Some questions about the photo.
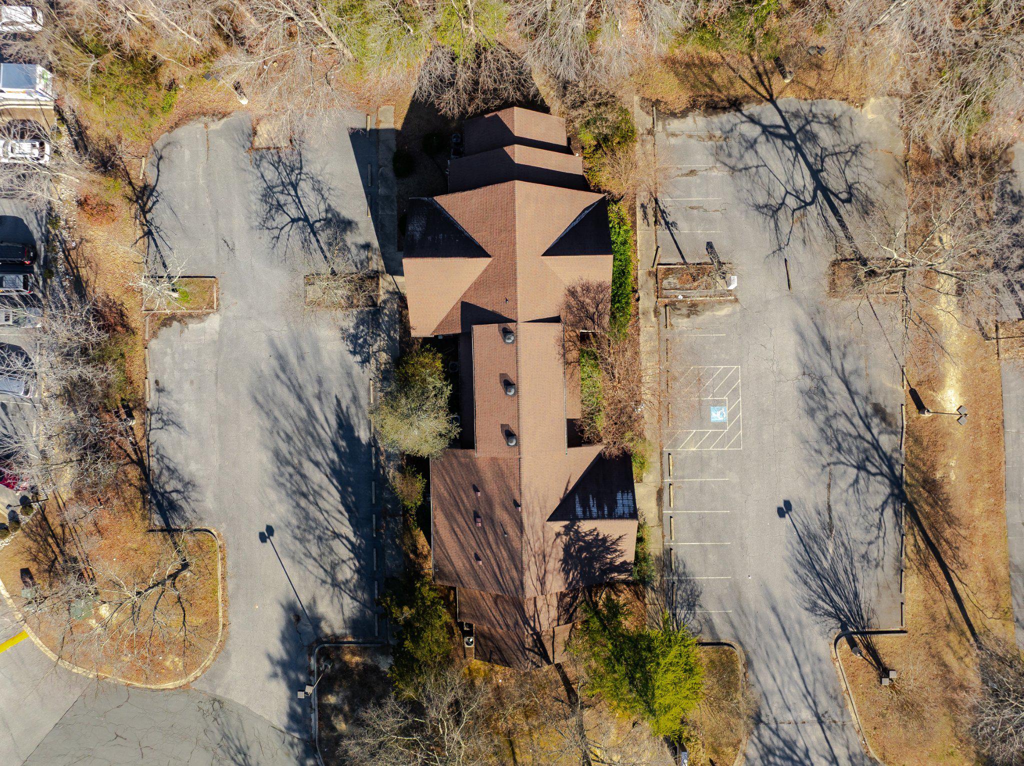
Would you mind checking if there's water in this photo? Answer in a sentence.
No, there is no water in the image.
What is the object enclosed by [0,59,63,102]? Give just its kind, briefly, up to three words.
truck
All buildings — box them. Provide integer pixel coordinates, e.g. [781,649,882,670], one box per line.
[404,107,638,670]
